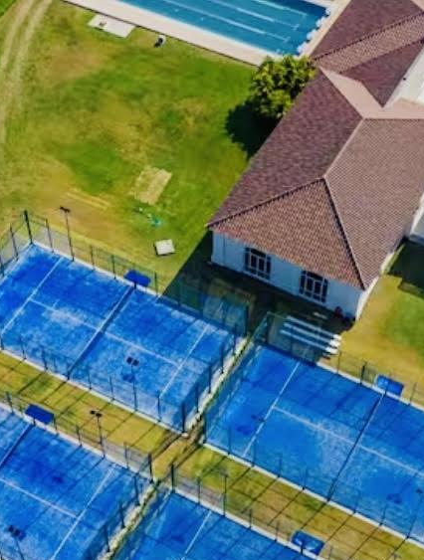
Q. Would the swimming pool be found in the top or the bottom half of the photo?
top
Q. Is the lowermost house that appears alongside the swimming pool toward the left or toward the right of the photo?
right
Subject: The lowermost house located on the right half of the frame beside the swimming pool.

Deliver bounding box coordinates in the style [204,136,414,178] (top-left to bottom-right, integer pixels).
[205,68,424,317]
